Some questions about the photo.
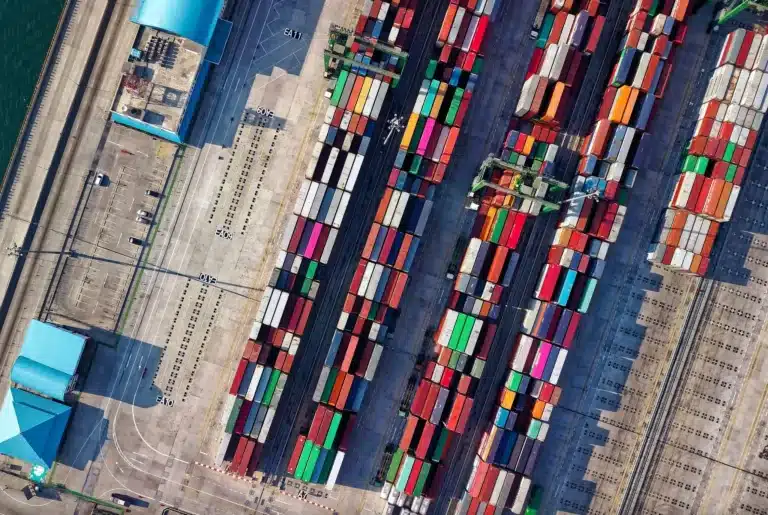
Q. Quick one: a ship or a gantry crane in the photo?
gantry crane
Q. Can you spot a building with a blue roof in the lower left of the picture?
Yes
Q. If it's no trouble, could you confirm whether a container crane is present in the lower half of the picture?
No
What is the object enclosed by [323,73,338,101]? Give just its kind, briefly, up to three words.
vehicle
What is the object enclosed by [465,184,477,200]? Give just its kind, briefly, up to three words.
vehicle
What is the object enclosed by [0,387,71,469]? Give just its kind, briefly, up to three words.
building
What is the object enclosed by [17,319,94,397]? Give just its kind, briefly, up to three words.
building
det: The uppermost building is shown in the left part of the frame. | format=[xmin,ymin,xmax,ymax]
[109,0,243,142]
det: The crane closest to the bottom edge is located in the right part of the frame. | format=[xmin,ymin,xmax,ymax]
[465,153,568,214]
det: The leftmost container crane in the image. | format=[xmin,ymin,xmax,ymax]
[322,25,412,97]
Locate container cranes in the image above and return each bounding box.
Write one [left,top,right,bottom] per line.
[708,0,768,28]
[465,153,568,214]
[322,25,412,97]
